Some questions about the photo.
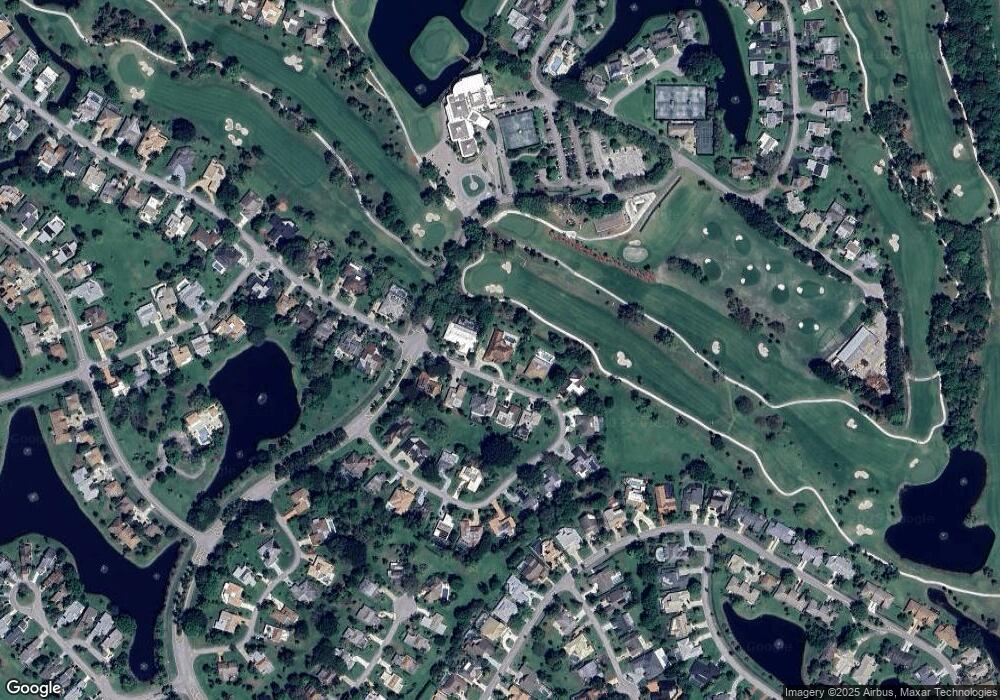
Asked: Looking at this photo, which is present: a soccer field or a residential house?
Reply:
residential house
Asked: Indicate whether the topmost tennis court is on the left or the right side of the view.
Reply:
right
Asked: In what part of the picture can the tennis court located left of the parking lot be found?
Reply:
top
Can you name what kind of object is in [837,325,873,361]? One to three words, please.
shed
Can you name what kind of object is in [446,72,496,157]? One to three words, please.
building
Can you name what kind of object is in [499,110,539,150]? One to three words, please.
tennis court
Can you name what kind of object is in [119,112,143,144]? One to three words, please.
house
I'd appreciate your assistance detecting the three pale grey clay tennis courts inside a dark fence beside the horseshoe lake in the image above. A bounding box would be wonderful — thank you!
[654,84,706,120]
